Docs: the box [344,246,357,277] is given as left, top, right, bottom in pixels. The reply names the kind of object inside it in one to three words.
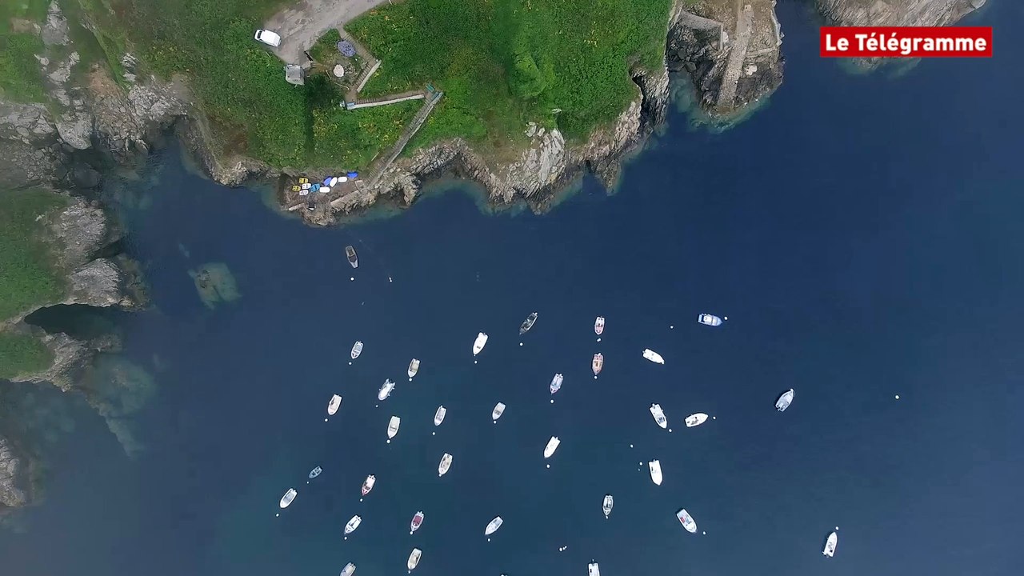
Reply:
boat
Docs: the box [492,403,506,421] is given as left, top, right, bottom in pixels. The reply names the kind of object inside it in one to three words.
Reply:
boat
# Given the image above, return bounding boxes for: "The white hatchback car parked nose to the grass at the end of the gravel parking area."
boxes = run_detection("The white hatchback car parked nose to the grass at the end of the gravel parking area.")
[253,28,281,46]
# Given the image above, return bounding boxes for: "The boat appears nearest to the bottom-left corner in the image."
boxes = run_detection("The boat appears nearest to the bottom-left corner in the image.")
[278,489,297,513]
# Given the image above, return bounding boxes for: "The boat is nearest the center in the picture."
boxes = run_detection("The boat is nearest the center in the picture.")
[520,313,538,336]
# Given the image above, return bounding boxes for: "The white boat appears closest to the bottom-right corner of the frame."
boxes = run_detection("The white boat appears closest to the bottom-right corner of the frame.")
[825,530,839,558]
